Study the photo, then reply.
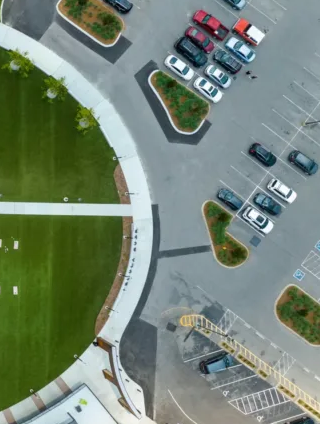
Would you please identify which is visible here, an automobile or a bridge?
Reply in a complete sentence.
Visible in the photo is an automobile.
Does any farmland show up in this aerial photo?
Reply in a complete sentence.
No, the picture contains no farmland.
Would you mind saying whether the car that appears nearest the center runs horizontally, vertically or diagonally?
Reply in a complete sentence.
The car that appears nearest the center is oriented diagonally.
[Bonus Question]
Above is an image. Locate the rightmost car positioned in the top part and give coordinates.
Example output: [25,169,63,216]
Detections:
[286,148,319,177]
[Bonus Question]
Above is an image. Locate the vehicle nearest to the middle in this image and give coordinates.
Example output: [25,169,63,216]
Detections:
[214,185,248,214]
